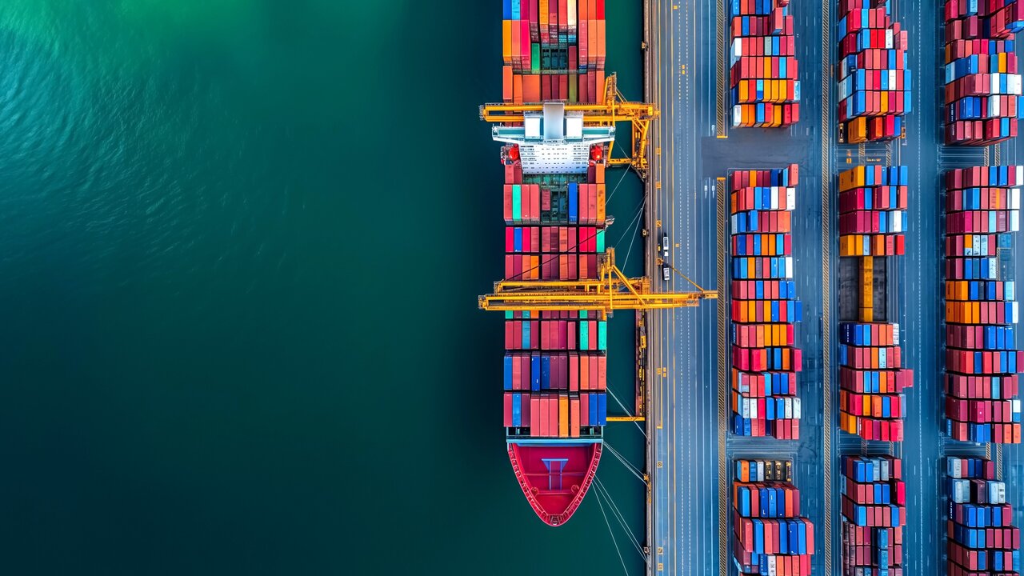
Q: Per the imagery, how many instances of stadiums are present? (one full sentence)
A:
Not a single stadium can be seen.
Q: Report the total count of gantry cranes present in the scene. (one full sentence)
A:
In total, 3 gantry cranes can be seen.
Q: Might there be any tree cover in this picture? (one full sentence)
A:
No, tree cover can't be seen anywhere here.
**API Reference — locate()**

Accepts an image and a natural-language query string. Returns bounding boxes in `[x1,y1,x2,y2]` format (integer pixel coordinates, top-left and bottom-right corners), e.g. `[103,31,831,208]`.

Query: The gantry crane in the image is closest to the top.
[479,68,660,171]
